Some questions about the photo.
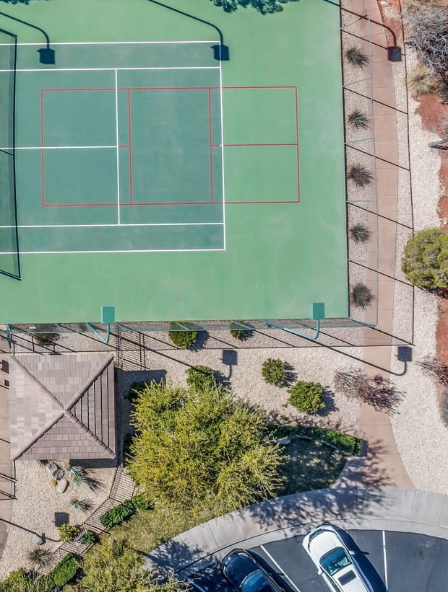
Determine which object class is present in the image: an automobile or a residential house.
automobile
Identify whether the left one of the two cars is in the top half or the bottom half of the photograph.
bottom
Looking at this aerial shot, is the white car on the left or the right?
right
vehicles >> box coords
[220,541,296,592]
[302,524,371,592]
